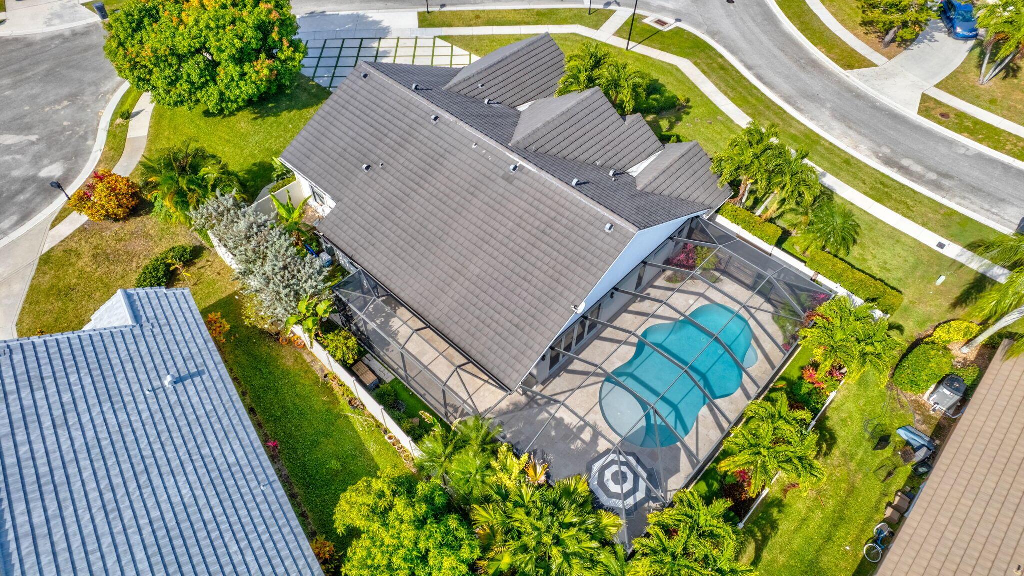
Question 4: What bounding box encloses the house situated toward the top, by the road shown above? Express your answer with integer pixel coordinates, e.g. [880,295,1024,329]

[278,30,735,408]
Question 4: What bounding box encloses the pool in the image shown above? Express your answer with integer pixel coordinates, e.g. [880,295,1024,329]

[593,298,764,454]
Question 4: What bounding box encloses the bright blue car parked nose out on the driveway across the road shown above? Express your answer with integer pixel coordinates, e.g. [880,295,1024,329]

[947,0,983,35]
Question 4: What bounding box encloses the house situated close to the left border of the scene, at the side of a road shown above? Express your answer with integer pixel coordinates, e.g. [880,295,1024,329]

[0,283,326,576]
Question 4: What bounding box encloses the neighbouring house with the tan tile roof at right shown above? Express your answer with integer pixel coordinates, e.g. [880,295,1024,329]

[877,344,1024,576]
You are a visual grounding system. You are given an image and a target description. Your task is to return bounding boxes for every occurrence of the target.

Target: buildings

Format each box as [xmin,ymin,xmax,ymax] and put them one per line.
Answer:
[278,30,735,408]
[877,344,1024,576]
[0,283,326,576]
